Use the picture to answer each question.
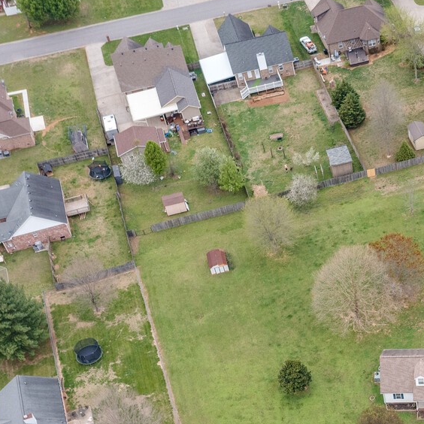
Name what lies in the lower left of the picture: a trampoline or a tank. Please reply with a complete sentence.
Looking in the lower left of the picture, you will find a trampoline.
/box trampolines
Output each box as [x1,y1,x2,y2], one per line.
[72,337,102,365]
[86,157,110,180]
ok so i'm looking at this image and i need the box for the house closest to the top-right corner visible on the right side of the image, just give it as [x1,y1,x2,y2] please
[309,0,390,56]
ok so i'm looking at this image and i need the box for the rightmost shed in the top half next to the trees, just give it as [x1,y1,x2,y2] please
[406,122,424,148]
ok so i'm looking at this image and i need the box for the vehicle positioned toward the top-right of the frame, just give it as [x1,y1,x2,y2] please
[301,36,316,53]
